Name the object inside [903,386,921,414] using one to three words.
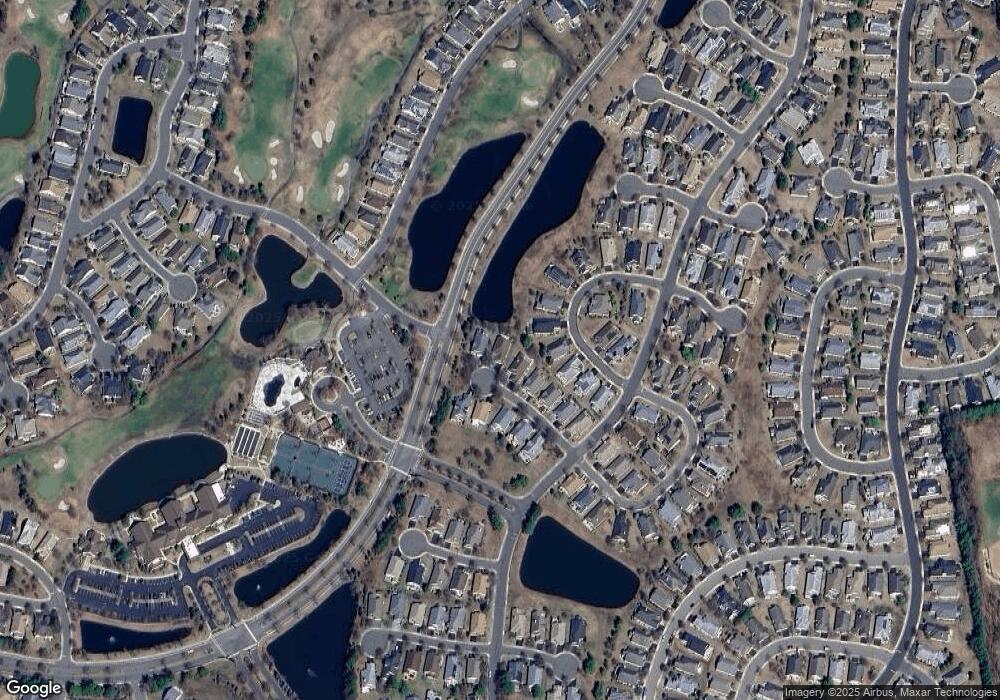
house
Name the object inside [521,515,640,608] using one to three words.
pond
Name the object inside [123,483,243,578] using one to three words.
building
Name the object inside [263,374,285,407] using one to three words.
swimming pool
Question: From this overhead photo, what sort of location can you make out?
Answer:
residential area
